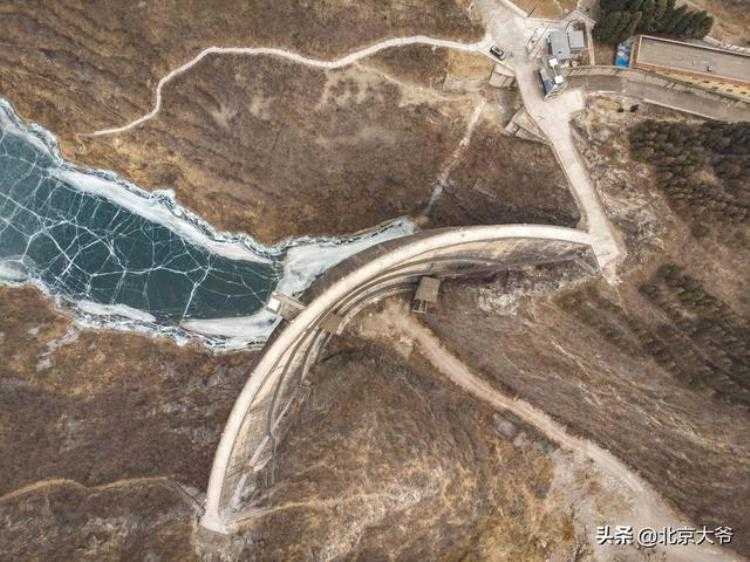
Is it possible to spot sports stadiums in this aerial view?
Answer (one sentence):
No, this view has no sports stadium in it.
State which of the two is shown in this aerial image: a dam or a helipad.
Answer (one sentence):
Of the two, only a dam appears.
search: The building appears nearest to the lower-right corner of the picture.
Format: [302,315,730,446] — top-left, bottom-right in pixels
[412,279,440,311]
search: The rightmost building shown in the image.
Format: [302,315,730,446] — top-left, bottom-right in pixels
[630,34,750,100]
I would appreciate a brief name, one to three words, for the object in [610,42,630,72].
shed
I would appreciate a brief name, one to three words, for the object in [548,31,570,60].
house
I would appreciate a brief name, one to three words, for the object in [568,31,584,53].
house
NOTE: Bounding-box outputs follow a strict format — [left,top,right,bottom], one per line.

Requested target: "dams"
[201,223,590,533]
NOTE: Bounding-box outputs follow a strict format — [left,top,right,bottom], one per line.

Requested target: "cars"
[489,44,506,59]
